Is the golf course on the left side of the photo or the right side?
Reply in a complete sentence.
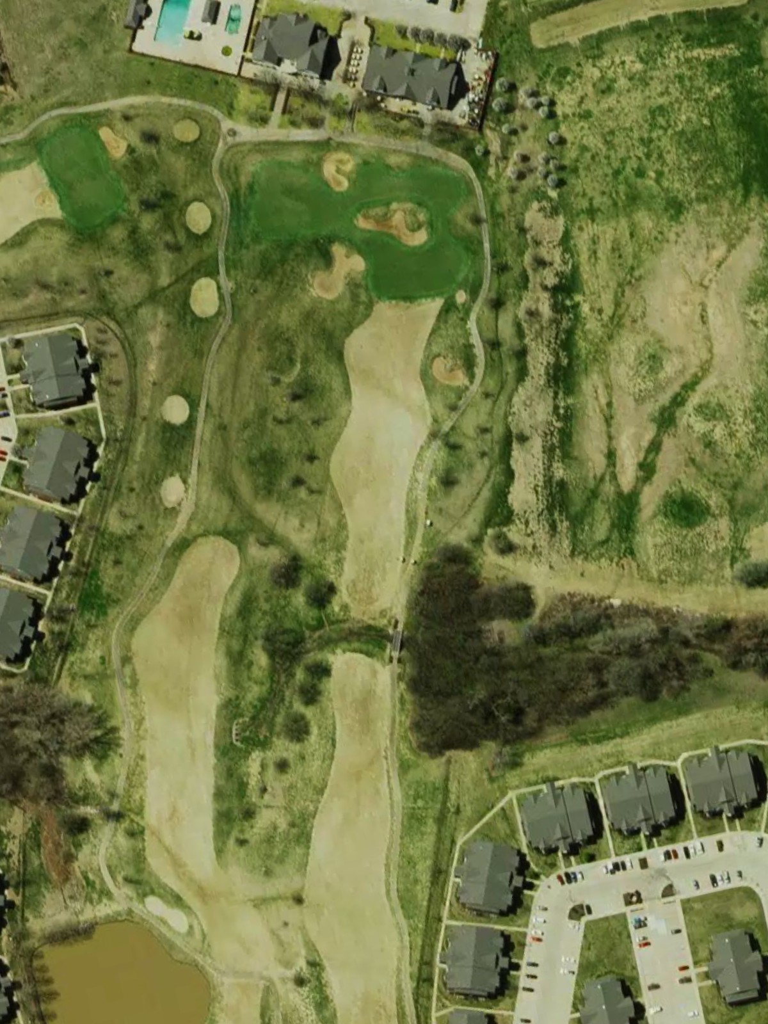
The golf course is on the left side of the image.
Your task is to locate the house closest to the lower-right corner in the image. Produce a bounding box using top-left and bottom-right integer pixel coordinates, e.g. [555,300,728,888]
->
[700,935,768,1004]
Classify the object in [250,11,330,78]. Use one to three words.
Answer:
building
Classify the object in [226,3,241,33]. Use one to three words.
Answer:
swimming pool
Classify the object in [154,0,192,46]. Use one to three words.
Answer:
swimming pool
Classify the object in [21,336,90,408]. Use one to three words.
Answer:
house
